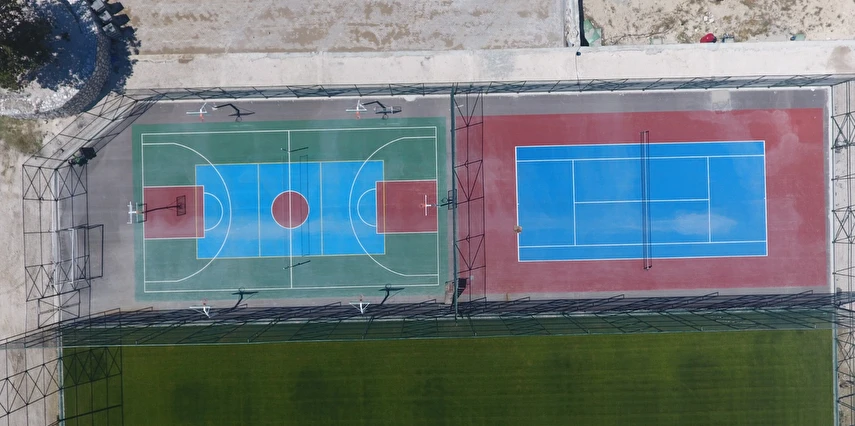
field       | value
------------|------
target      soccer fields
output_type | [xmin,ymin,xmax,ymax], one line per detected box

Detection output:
[63,312,832,426]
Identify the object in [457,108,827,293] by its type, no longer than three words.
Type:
tennis court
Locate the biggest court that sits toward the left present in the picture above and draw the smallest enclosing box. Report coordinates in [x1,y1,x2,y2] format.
[132,117,448,302]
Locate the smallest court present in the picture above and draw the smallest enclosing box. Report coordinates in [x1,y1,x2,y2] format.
[195,160,386,259]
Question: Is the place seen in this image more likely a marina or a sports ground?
sports ground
